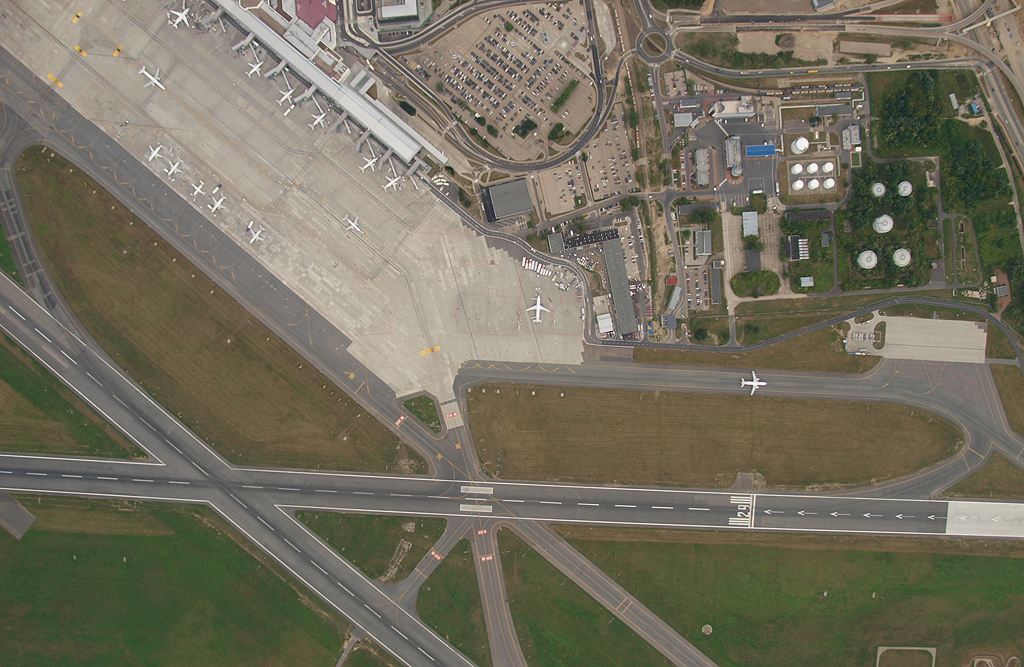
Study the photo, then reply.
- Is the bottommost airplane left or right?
right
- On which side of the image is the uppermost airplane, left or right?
left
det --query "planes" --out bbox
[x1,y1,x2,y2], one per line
[359,156,381,173]
[138,65,165,90]
[149,143,164,161]
[211,194,227,213]
[170,9,190,30]
[168,157,184,176]
[250,225,266,244]
[342,215,365,234]
[245,62,263,78]
[189,180,205,196]
[526,295,550,323]
[741,371,767,396]
[308,113,326,130]
[381,177,401,192]
[275,88,295,106]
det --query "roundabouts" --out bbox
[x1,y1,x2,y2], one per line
[634,25,675,65]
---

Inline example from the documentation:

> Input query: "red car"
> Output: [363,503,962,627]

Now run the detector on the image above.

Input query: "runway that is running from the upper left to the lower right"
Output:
[0,270,476,667]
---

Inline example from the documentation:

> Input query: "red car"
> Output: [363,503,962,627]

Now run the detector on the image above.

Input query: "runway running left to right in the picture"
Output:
[0,455,1024,537]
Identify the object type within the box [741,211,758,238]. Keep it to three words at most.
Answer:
building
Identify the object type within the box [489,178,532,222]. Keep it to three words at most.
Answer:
hangar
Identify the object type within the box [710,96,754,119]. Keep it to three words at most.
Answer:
building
